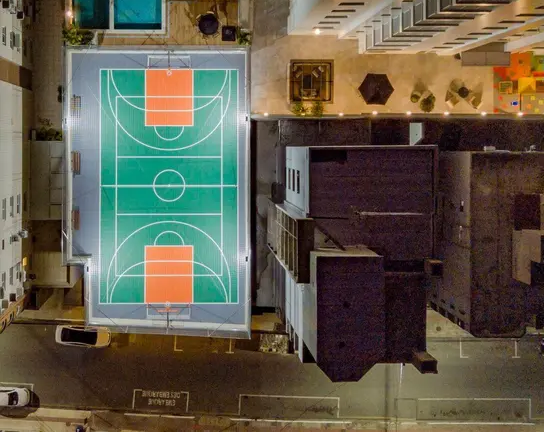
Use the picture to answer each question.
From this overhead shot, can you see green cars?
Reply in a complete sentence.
No, no green car is visible in the scene.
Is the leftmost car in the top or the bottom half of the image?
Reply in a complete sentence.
It is in the bottom half that the leftmost car appears.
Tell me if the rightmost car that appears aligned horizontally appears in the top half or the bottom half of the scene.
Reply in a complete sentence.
The rightmost car that appears aligned horizontally sits in the bottom half of the picture.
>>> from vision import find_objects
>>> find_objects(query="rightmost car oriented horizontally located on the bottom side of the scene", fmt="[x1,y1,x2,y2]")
[56,324,110,351]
